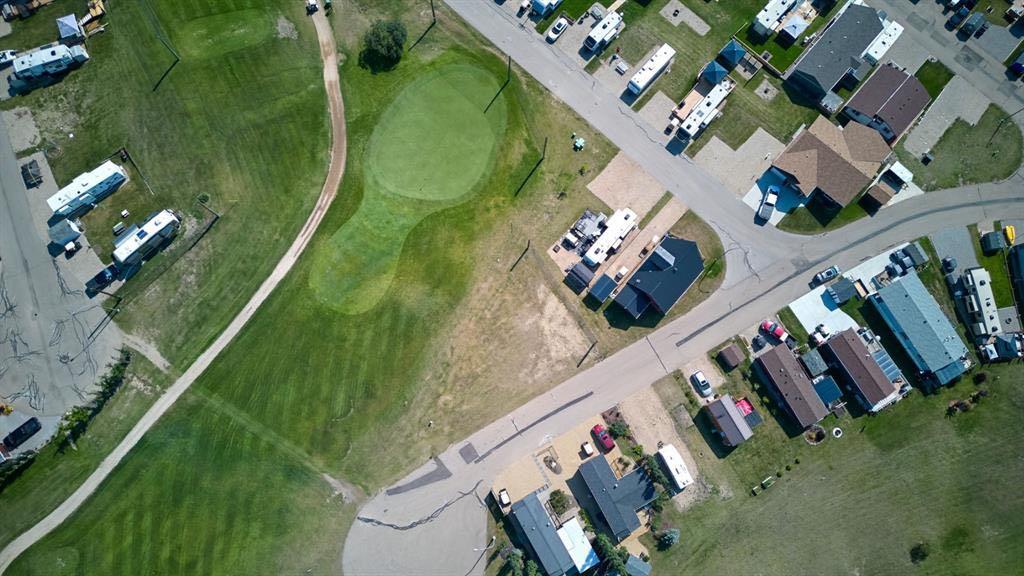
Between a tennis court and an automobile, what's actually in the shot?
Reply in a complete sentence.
I can see an automobile in this picture.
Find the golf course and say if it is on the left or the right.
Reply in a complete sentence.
It is on the left.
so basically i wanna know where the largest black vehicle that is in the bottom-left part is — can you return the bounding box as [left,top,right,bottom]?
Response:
[3,417,43,449]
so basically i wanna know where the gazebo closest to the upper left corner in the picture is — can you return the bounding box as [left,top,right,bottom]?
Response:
[57,14,88,44]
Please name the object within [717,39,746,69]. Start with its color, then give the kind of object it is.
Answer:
blue gazebo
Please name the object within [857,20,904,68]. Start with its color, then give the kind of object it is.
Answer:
white camper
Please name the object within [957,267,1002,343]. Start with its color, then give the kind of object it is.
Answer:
white trailer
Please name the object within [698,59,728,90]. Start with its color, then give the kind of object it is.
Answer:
blue gazebo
